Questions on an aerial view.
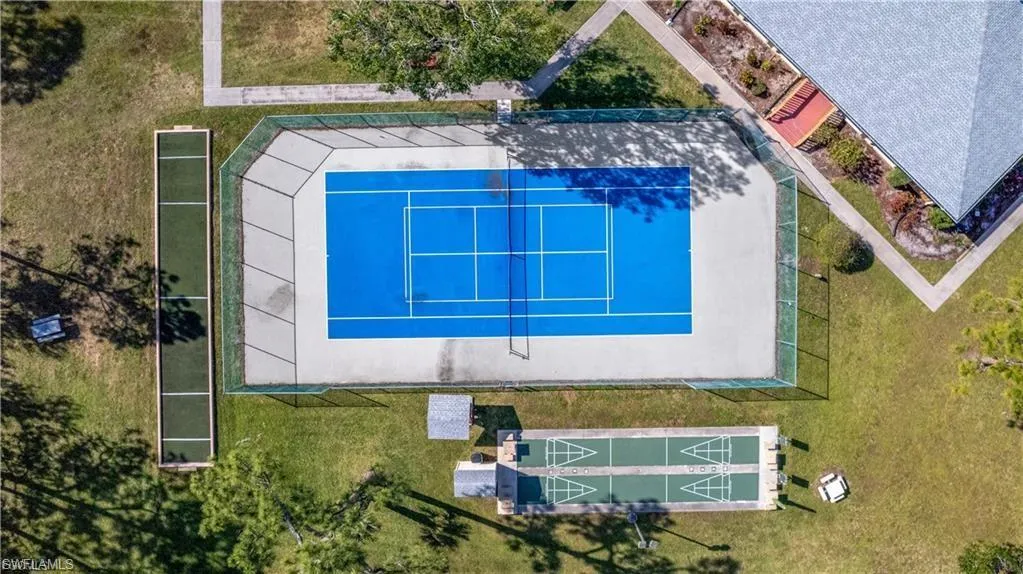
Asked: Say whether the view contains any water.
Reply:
No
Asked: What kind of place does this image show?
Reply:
sports ground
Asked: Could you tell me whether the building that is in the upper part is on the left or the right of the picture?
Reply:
right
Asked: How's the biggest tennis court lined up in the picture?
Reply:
from left to right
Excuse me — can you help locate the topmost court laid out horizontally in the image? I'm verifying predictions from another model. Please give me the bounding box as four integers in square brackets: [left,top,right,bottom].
[245,124,775,383]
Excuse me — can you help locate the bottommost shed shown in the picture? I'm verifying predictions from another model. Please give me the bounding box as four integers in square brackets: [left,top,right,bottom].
[453,460,498,497]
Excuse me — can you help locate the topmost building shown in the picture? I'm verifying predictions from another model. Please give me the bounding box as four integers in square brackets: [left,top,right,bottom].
[726,0,1023,224]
